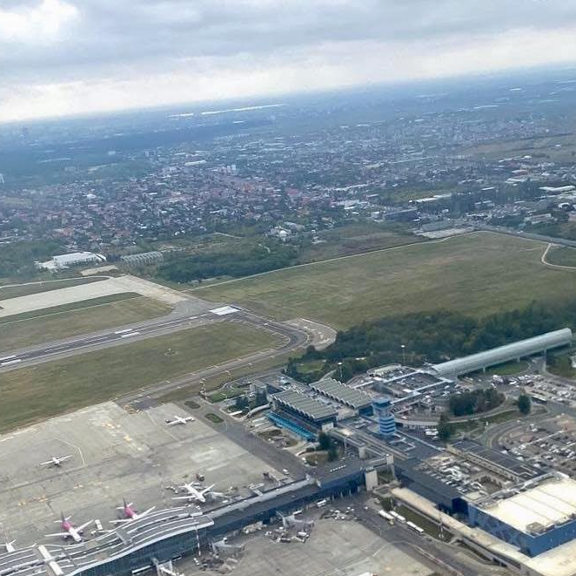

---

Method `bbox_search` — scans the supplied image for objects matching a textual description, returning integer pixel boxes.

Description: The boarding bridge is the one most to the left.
[157,557,182,576]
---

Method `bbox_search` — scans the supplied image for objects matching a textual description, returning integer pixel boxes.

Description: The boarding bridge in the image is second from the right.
[206,538,243,559]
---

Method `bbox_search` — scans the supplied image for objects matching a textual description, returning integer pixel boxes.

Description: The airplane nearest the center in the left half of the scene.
[166,410,194,426]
